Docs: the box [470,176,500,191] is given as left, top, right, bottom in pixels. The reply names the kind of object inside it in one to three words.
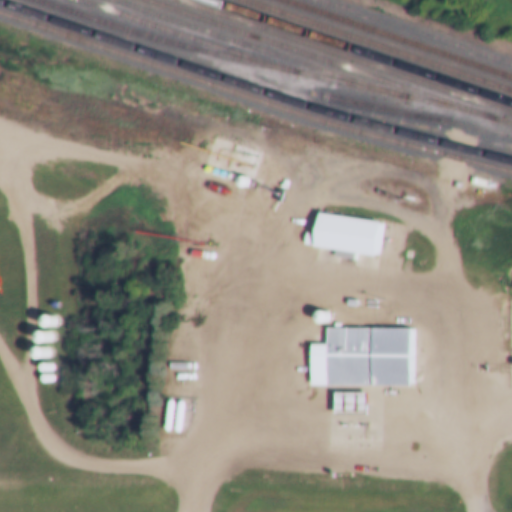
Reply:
vehicle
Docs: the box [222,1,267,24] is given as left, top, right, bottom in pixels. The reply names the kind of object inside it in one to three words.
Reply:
rail car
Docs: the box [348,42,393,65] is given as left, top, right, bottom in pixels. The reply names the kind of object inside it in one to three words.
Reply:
rail car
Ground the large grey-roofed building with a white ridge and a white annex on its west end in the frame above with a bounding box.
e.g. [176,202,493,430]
[310,327,415,386]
